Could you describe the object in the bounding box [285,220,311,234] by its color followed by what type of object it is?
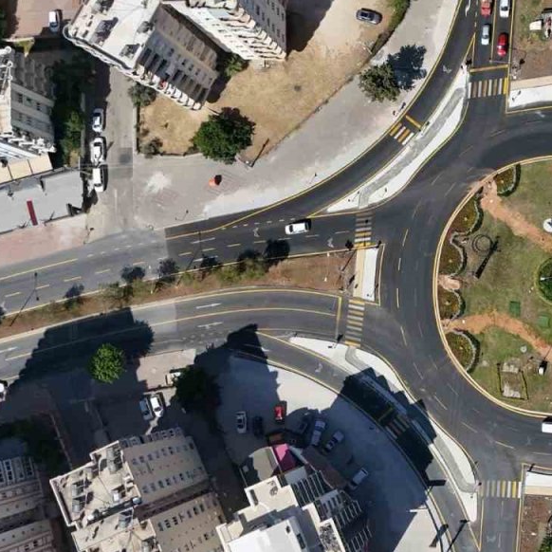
white car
